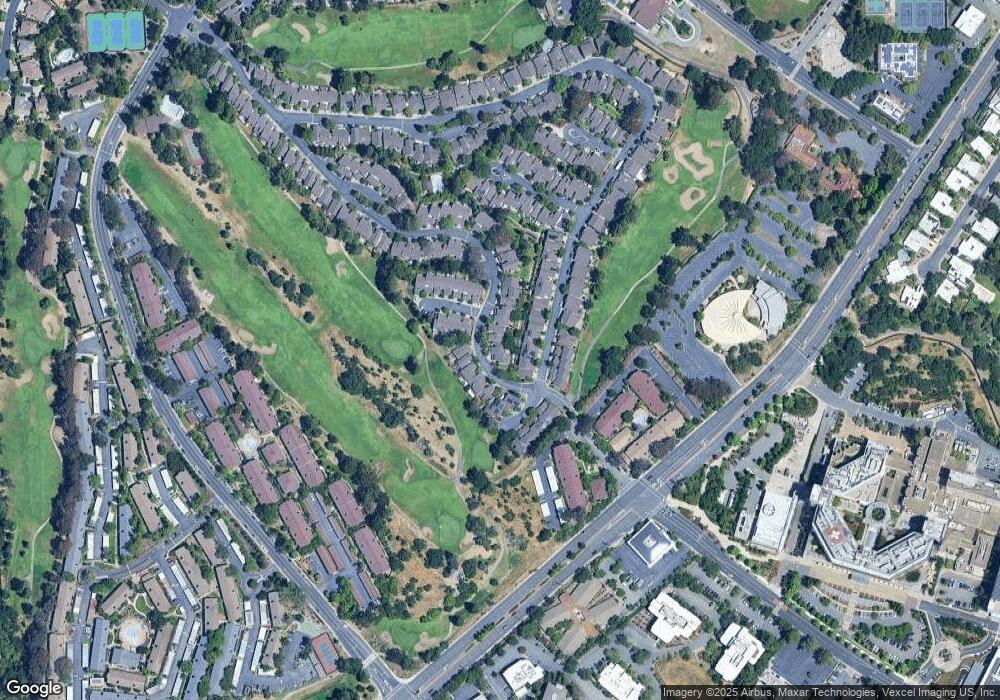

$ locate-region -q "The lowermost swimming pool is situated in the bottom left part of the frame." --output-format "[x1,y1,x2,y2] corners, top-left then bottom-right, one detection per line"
[118,617,147,647]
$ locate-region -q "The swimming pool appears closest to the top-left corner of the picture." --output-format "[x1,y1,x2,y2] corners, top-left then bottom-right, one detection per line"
[56,48,74,64]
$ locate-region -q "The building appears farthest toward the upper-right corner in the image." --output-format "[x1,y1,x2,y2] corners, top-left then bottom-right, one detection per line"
[953,4,987,37]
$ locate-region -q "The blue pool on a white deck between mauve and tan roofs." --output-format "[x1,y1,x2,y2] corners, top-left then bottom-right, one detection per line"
[632,407,650,428]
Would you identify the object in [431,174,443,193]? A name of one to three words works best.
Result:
swimming pool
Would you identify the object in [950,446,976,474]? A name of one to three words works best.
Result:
building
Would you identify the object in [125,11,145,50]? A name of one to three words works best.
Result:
tennis court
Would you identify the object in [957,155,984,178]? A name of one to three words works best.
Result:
house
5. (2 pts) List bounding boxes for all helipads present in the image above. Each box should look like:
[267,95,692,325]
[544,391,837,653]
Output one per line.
[829,527,849,547]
